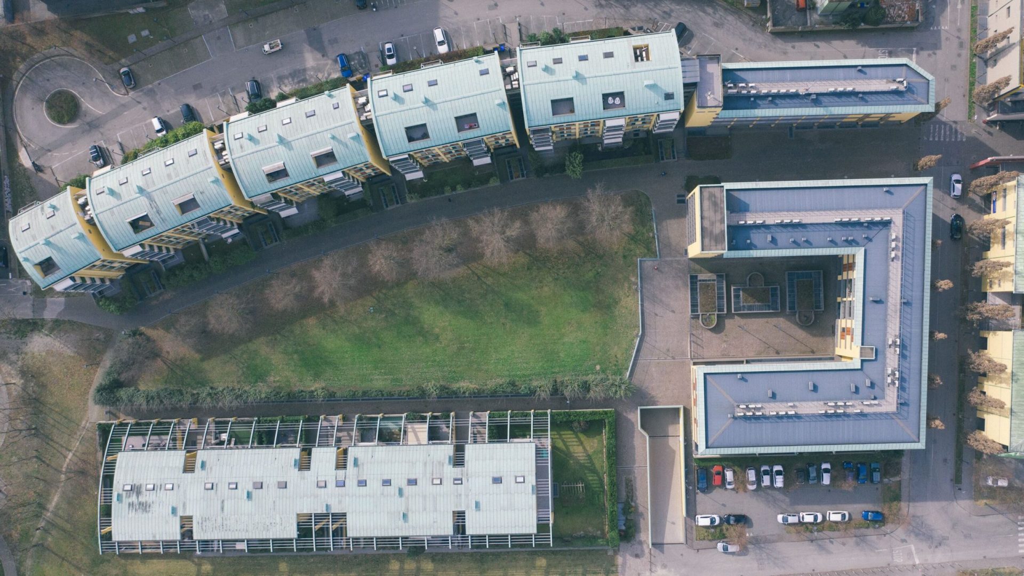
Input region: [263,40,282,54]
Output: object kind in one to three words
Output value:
vehicle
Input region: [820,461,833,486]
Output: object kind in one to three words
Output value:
vehicle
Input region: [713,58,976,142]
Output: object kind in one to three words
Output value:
building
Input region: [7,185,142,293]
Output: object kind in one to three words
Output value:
building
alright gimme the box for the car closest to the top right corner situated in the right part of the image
[948,173,964,199]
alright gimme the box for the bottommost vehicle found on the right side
[716,541,740,554]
